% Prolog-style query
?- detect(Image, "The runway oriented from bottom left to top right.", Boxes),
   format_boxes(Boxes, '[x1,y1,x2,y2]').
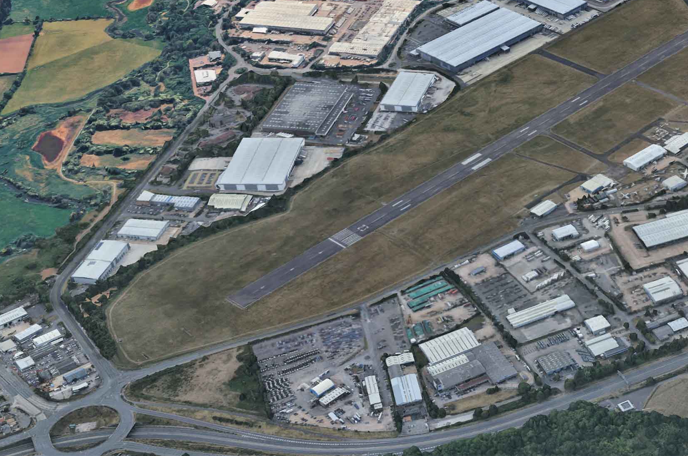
[228,31,688,308]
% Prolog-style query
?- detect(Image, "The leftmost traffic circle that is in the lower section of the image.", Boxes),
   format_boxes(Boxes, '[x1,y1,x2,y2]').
[32,394,134,456]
